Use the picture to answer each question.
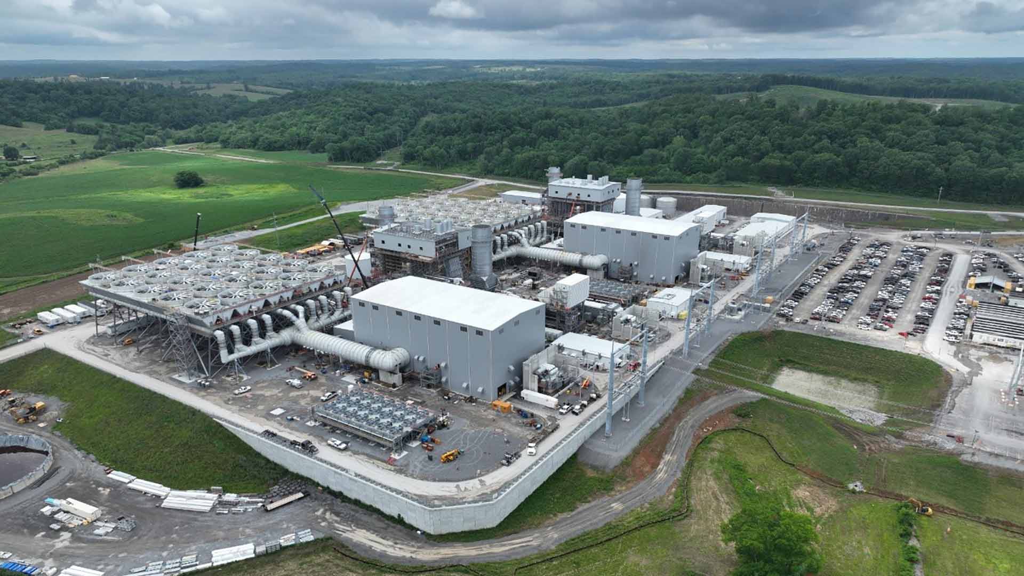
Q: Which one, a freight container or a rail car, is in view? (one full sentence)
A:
Visible in the photo is a freight container.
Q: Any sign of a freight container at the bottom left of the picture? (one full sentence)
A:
Yes, you'll find a freight container at the bottom left of the picture.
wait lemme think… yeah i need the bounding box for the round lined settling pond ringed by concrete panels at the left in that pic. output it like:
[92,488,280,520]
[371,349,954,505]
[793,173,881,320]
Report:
[0,430,55,498]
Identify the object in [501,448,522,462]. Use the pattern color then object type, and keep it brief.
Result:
gray vehicle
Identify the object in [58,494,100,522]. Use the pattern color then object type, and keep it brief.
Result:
white shipping container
